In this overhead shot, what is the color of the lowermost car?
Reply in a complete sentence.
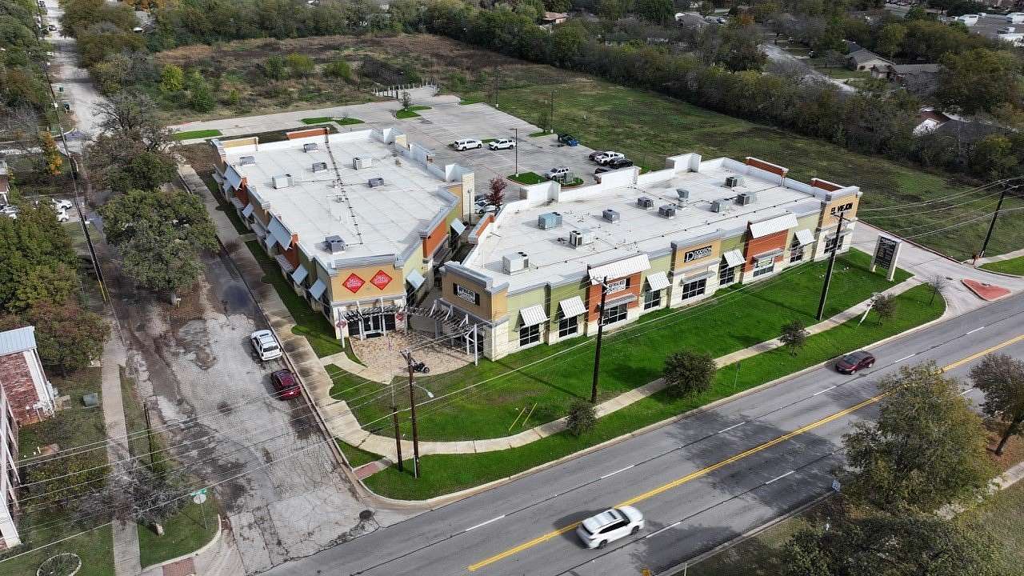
The color of the lowermost car is white.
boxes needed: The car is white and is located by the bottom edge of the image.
[575,506,642,551]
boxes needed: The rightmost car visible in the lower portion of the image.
[829,348,873,374]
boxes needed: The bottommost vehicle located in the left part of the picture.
[270,370,303,401]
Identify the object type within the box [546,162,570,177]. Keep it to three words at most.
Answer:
car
